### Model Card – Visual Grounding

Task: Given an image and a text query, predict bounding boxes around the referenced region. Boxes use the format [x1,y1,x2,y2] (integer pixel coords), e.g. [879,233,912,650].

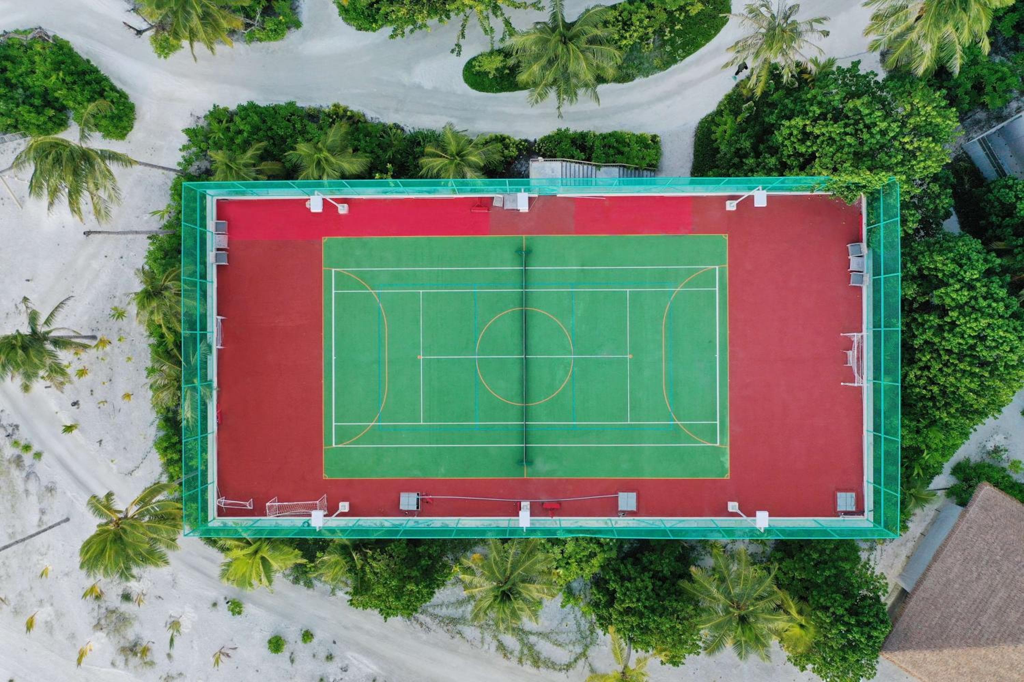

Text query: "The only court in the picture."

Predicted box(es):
[217,192,862,517]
